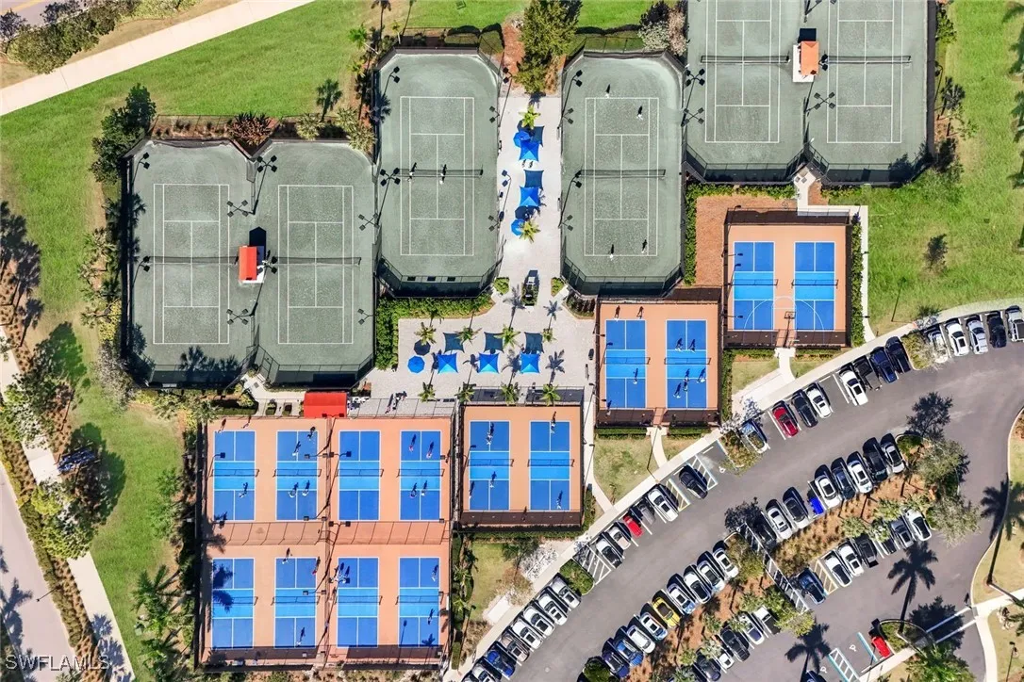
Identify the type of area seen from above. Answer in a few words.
sports ground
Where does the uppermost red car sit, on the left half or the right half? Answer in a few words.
right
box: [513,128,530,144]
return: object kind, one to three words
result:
umbrella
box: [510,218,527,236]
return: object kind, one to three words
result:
umbrella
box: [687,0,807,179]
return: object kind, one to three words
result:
tennis court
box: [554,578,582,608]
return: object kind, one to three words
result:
car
